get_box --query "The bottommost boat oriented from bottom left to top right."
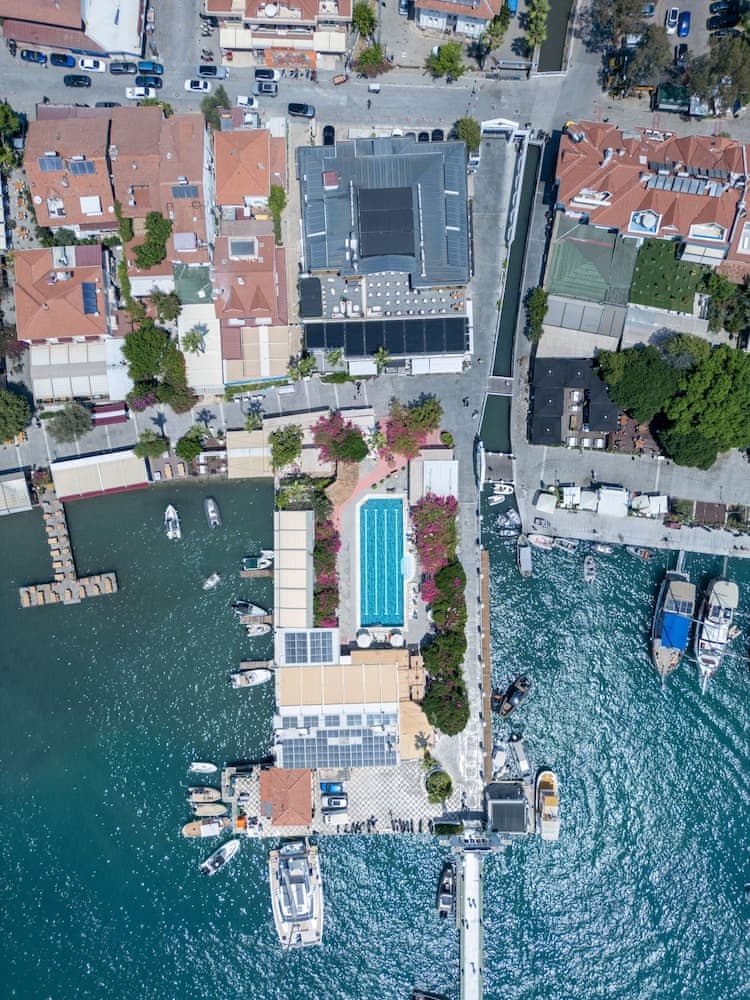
[197,840,239,876]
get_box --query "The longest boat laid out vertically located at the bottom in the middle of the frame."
[269,825,323,962]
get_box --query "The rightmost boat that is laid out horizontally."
[626,546,657,560]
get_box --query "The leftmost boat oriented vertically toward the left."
[165,505,181,543]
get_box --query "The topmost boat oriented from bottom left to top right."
[492,513,511,529]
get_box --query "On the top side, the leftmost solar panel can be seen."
[40,157,63,172]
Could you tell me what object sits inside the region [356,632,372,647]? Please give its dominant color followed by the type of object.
white umbrella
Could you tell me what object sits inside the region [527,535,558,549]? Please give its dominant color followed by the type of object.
white boat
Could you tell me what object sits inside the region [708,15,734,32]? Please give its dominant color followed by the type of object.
black car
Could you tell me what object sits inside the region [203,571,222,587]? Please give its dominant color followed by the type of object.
white boat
